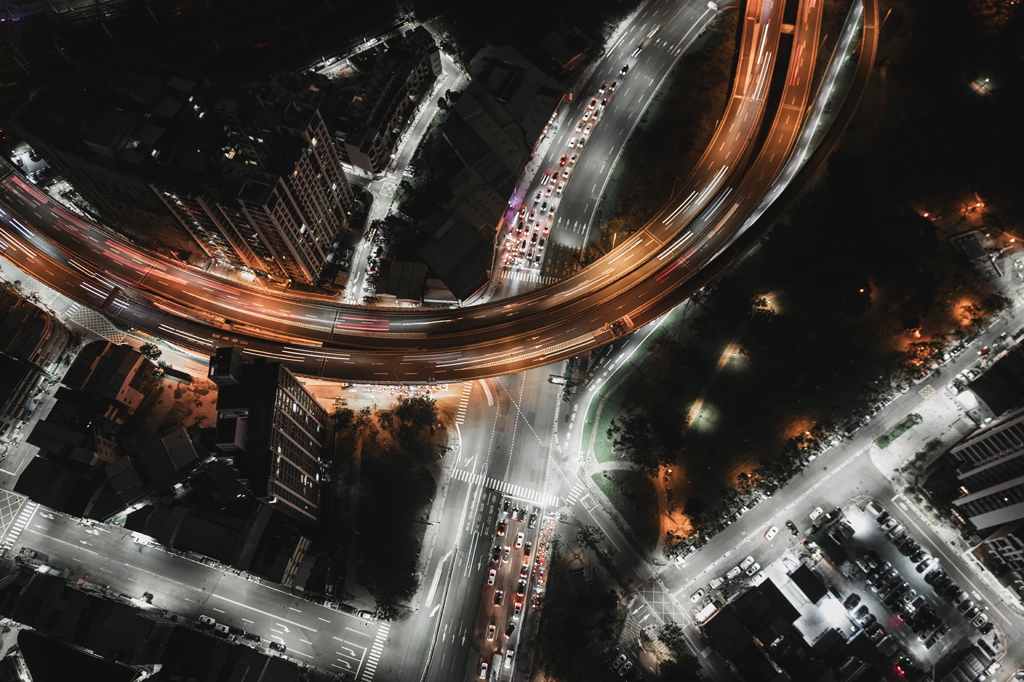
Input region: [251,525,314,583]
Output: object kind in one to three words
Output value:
building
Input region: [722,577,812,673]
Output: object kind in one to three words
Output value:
building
